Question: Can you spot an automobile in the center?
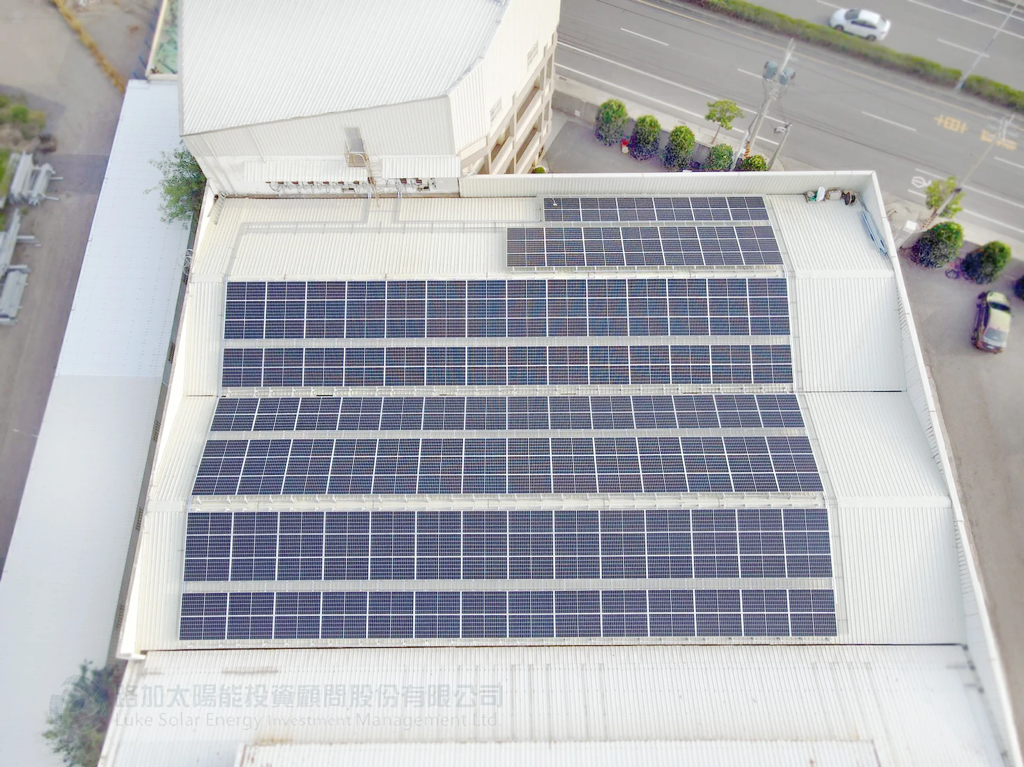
No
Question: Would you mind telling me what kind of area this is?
industrial area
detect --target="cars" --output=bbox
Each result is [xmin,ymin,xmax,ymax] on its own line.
[830,2,895,39]
[970,289,1013,355]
